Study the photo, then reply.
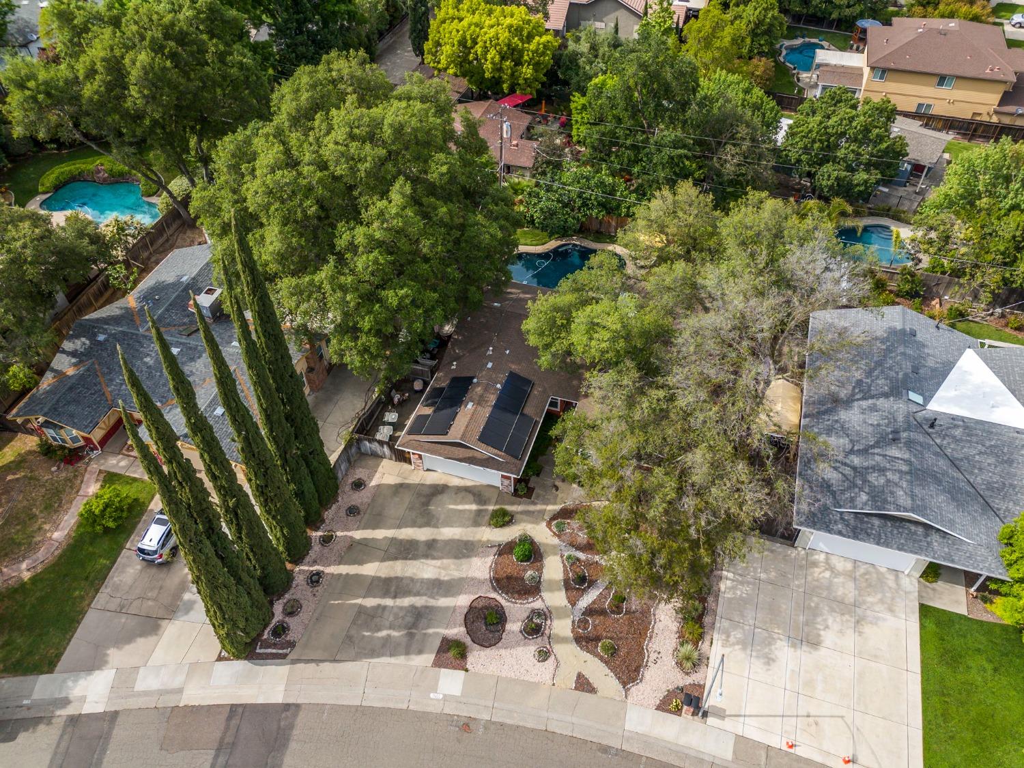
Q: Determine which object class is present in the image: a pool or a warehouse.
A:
pool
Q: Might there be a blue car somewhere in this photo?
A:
No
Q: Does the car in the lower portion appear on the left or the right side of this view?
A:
left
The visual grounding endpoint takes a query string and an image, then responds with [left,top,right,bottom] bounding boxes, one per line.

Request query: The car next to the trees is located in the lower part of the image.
[136,501,182,563]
